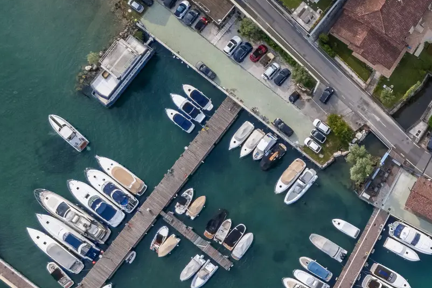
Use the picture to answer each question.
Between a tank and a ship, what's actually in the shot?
ship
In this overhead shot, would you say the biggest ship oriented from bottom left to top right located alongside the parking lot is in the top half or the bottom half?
top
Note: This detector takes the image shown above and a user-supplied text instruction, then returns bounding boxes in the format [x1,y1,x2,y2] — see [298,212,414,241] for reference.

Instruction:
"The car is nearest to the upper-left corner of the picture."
[128,0,147,16]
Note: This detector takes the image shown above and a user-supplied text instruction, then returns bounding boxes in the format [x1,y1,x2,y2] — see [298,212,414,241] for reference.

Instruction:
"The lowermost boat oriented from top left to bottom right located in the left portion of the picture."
[45,261,80,288]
